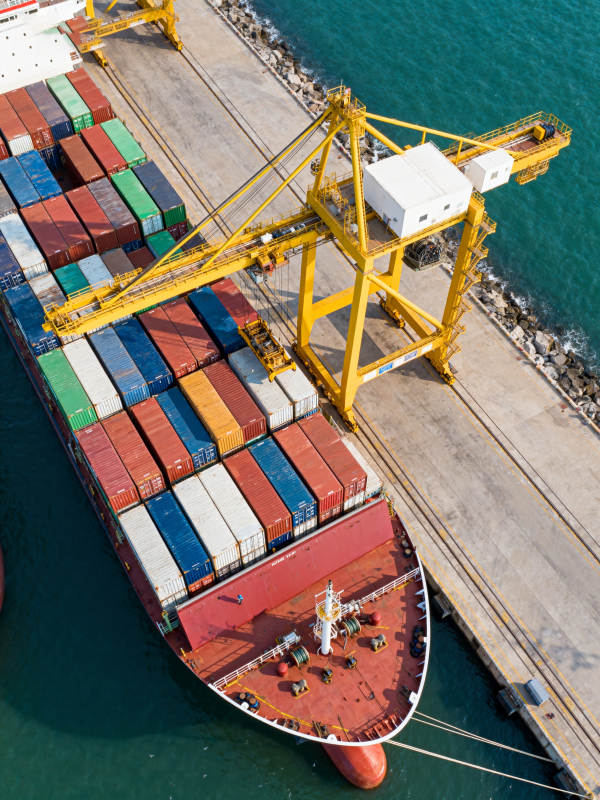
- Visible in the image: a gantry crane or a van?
gantry crane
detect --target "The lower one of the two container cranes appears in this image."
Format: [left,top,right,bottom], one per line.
[41,58,582,430]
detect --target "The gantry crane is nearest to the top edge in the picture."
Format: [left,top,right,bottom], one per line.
[73,0,184,72]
